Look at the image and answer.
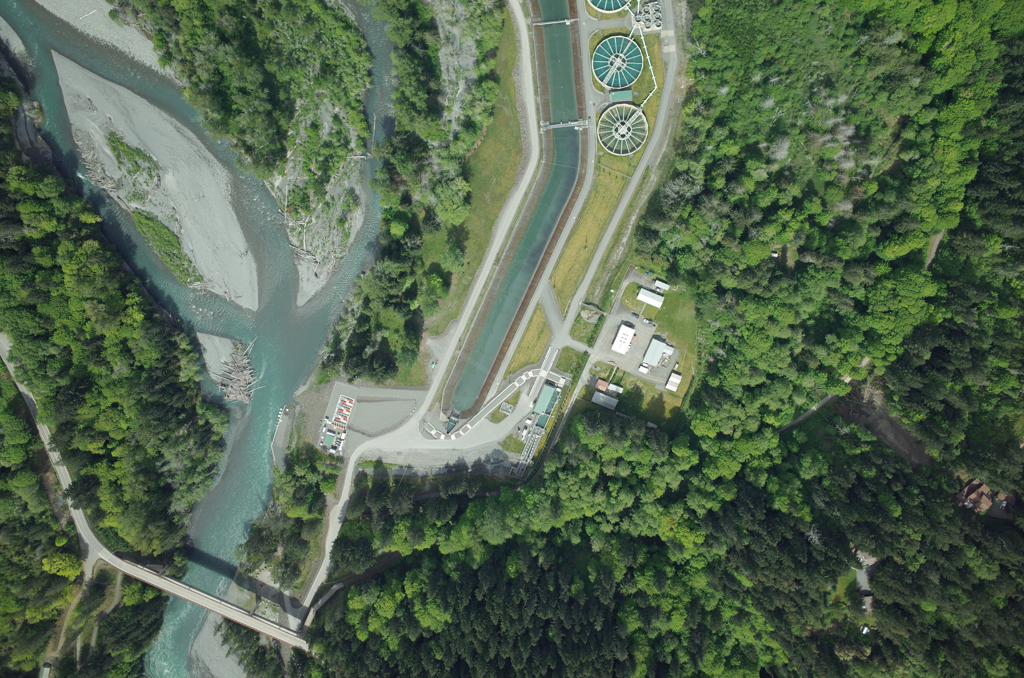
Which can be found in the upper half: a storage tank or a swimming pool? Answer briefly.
storage tank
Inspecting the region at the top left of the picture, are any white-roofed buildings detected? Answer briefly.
No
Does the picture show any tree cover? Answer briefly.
Yes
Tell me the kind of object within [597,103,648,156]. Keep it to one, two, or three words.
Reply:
storage tank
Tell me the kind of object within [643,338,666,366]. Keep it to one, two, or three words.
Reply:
building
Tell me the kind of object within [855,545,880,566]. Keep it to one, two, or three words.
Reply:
house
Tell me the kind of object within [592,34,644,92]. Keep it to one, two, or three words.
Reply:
storage tank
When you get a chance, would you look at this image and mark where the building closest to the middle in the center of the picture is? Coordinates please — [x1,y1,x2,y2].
[533,383,554,415]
